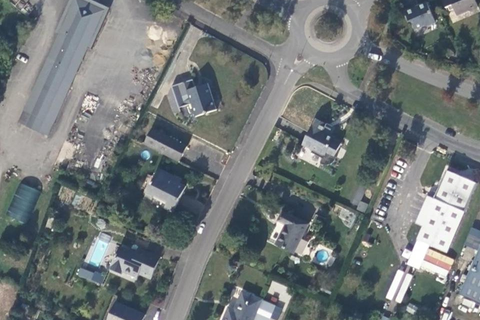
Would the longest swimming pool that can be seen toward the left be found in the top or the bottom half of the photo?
bottom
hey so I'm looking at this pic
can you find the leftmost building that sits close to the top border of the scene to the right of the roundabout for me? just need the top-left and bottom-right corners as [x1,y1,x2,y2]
[402,0,437,34]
